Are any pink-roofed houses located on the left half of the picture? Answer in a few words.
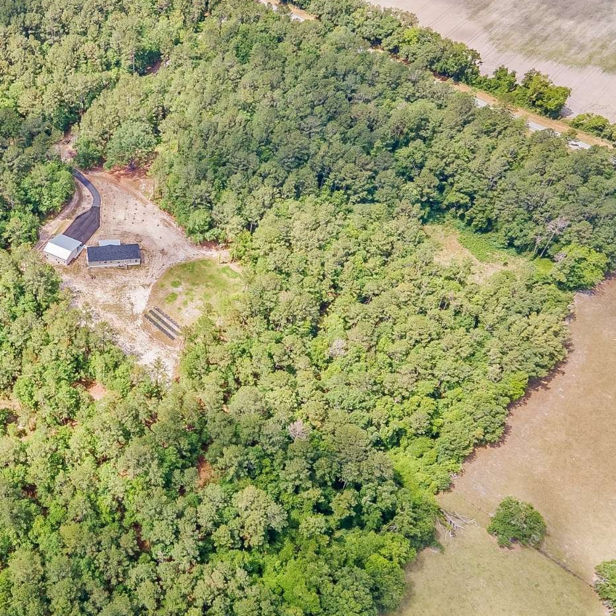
No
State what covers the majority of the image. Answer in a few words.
trees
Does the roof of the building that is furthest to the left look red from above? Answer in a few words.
No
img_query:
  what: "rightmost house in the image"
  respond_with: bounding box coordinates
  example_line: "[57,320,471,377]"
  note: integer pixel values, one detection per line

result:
[87,237,142,270]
